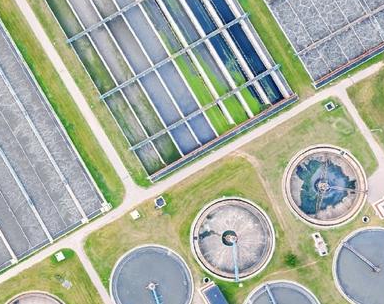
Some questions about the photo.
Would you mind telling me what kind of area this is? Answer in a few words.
industrial area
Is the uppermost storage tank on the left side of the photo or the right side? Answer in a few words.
right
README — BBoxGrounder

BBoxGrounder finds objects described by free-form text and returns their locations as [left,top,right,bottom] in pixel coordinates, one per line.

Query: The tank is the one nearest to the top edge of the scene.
[281,144,370,230]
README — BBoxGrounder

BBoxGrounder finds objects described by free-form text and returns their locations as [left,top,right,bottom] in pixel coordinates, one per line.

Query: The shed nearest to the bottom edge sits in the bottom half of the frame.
[191,279,227,304]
